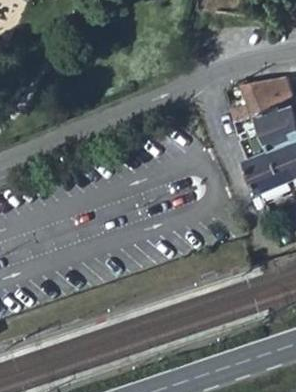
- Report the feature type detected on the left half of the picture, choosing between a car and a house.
car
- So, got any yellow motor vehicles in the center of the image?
No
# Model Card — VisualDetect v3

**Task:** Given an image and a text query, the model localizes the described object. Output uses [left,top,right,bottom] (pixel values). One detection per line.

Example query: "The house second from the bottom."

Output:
[253,106,296,154]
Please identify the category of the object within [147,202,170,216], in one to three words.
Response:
car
